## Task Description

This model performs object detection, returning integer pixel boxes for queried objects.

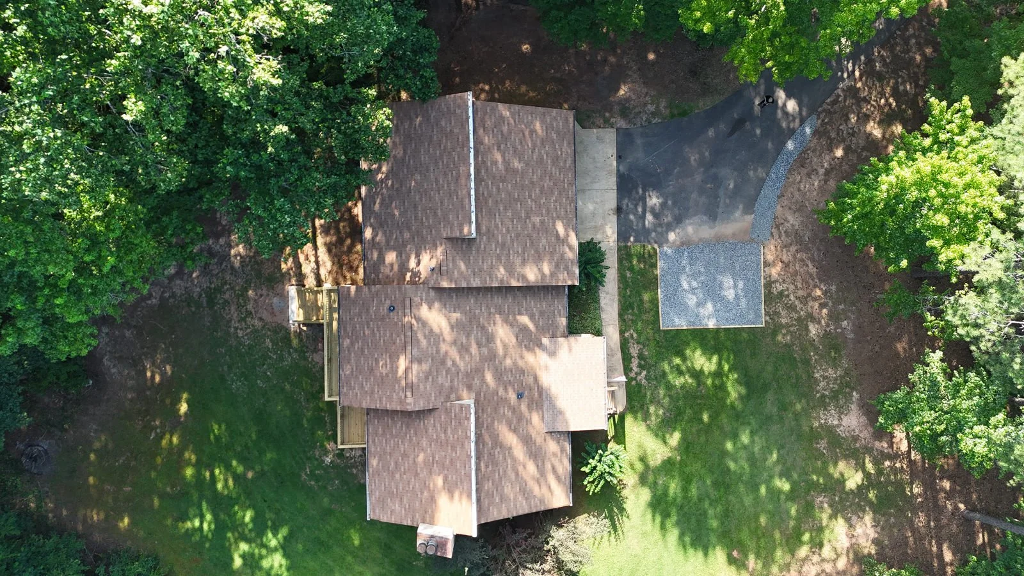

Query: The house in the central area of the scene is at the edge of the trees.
[335,91,609,558]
